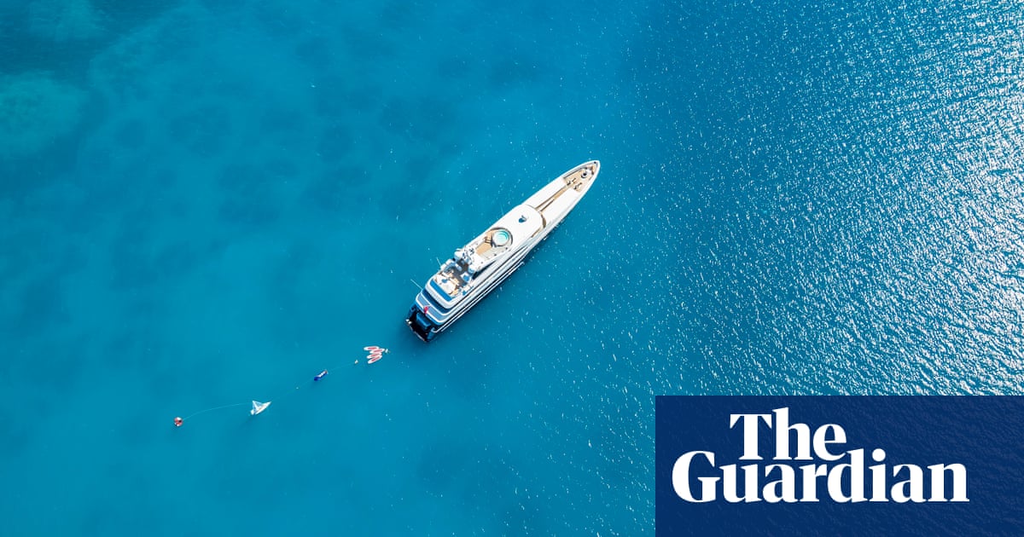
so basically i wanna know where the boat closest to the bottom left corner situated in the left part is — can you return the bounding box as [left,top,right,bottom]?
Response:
[250,400,272,415]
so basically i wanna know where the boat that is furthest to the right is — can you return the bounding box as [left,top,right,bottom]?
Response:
[407,160,601,341]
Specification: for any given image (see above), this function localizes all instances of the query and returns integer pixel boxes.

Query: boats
[314,370,329,380]
[407,160,601,341]
[250,400,272,415]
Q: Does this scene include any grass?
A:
No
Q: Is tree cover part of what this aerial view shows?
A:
No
